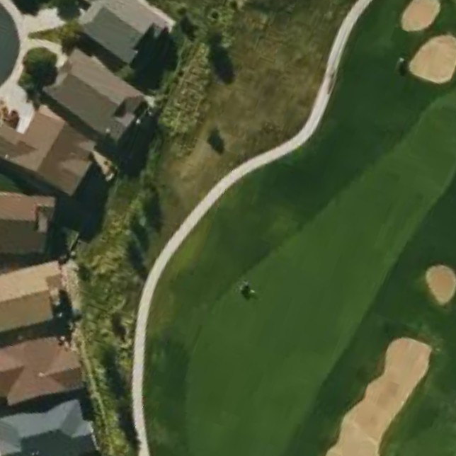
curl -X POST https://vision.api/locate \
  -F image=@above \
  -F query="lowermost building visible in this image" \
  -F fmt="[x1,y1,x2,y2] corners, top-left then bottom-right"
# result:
[0,401,95,456]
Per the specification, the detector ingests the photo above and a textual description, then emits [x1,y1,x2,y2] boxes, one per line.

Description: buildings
[0,105,113,189]
[0,260,62,332]
[50,53,156,141]
[75,0,176,58]
[0,334,84,406]
[0,401,95,456]
[0,193,54,252]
